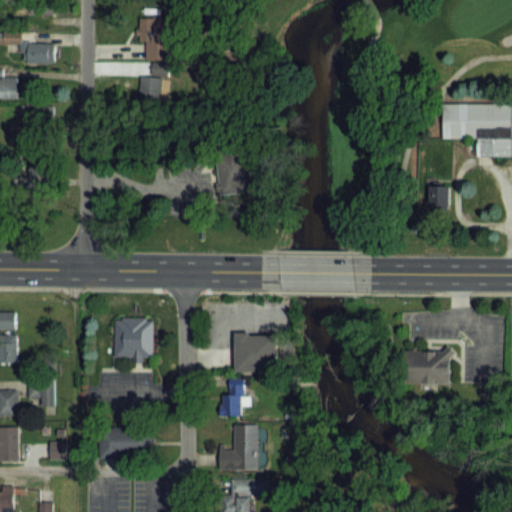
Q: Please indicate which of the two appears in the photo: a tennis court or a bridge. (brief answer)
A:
bridge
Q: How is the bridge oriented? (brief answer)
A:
from left to right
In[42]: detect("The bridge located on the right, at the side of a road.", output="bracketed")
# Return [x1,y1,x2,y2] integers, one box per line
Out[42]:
[260,252,376,296]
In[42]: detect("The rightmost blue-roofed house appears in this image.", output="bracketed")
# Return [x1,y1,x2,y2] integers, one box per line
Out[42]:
[220,380,254,419]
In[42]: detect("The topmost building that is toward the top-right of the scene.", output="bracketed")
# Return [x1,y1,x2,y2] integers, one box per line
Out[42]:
[442,104,512,158]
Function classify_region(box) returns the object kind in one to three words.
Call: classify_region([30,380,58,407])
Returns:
building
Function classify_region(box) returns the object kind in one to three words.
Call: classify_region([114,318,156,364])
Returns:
building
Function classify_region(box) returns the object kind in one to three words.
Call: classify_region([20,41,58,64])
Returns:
house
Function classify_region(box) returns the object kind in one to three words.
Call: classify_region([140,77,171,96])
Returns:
house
